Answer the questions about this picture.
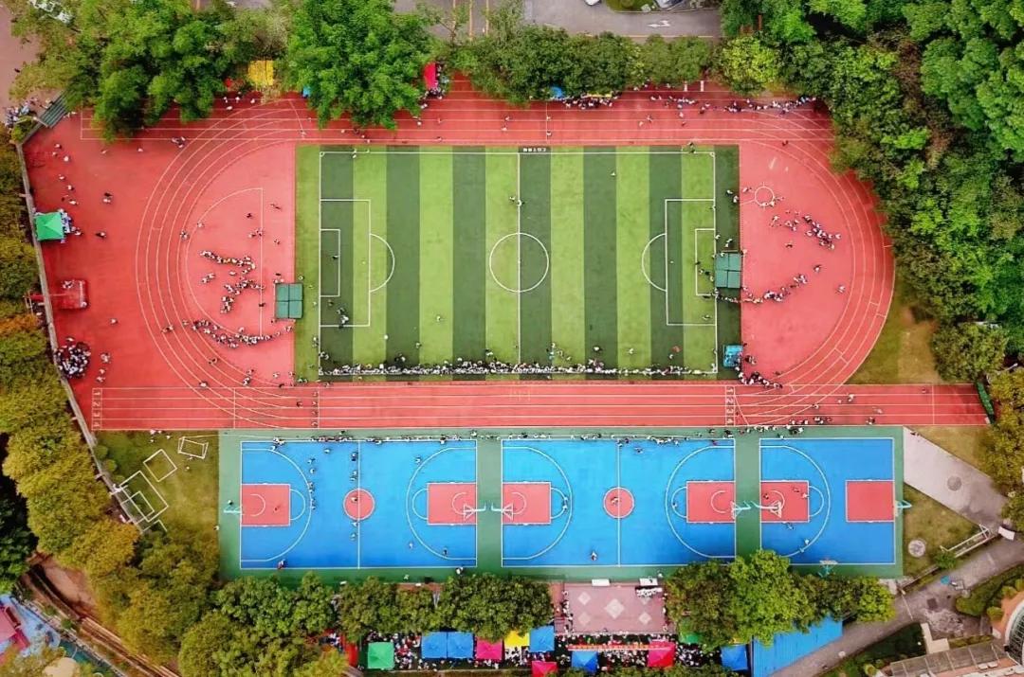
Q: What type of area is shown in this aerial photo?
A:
sports ground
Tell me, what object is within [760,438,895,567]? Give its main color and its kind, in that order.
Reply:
blue basketball court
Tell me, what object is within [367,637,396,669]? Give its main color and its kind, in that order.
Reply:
green tent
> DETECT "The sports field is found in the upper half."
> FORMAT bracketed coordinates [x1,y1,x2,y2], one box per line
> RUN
[294,144,741,382]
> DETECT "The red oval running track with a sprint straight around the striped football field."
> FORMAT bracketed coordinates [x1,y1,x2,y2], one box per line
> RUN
[29,68,987,431]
